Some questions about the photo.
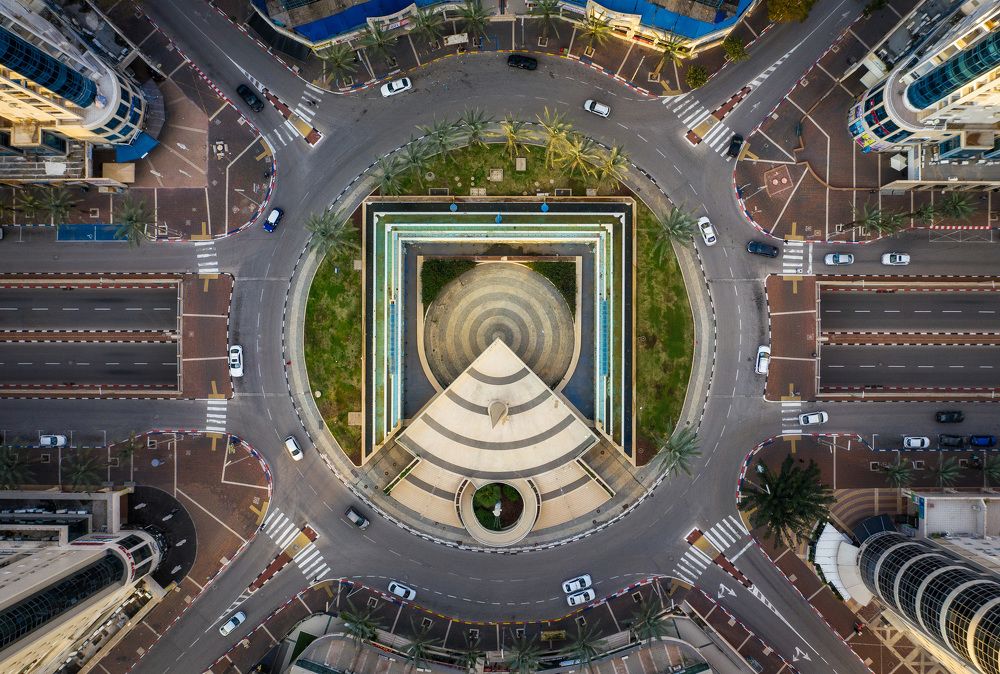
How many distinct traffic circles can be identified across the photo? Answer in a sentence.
The count comes to 1 traffic circle.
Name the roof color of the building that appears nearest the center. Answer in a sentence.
The color of the roof on the building that appears nearest the center is white.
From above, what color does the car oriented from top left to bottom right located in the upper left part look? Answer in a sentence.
In this view, the car oriented from top left to bottom right located in the upper left part is black.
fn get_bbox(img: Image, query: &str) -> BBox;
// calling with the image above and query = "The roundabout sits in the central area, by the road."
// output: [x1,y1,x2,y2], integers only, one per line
[206,51,793,624]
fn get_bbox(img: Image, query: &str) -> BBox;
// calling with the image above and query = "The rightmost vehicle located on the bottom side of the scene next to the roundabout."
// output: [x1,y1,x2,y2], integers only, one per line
[800,411,829,426]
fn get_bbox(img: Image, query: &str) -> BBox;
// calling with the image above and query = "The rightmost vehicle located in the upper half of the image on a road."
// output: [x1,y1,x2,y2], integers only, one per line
[882,251,913,265]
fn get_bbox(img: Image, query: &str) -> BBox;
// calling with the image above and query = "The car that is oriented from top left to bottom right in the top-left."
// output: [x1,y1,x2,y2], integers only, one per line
[234,82,263,110]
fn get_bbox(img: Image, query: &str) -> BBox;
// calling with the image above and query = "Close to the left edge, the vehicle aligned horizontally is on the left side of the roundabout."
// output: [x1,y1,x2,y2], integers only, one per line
[37,435,64,447]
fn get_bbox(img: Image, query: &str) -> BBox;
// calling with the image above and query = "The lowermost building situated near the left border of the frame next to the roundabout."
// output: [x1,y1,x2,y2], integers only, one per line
[0,525,170,674]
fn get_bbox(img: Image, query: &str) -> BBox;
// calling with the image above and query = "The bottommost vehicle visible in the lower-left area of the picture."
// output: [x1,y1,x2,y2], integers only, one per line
[216,612,244,638]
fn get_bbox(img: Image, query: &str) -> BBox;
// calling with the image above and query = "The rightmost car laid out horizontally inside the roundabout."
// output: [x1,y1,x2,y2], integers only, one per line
[748,239,779,256]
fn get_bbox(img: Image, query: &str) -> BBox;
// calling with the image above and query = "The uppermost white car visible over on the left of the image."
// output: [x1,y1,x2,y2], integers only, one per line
[381,77,411,95]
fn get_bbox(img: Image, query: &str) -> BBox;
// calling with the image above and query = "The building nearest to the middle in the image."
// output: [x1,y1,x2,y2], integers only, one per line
[382,339,615,547]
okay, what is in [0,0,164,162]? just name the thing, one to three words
building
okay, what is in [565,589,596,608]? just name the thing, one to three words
car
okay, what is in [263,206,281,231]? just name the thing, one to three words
car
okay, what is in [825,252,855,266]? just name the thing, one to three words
vehicle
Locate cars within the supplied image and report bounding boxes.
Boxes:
[228,346,242,376]
[344,508,368,530]
[565,589,596,608]
[727,130,746,160]
[698,216,718,245]
[387,582,416,602]
[234,82,263,110]
[904,437,931,449]
[748,239,779,256]
[582,97,613,117]
[757,347,772,373]
[216,612,244,638]
[37,435,64,447]
[282,436,302,462]
[882,251,913,265]
[562,575,592,594]
[507,51,537,68]
[972,436,998,448]
[800,411,829,426]
[938,410,965,422]
[381,77,411,95]
[263,206,281,231]
[825,252,855,266]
